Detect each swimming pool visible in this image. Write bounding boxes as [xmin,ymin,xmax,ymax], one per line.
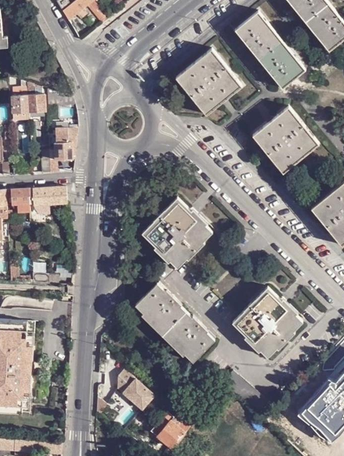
[114,392,138,426]
[59,105,76,120]
[22,256,31,272]
[21,133,30,155]
[0,104,10,124]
